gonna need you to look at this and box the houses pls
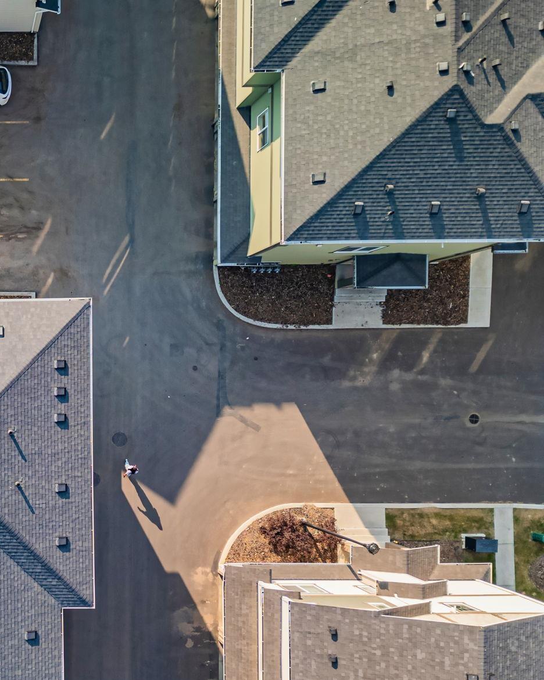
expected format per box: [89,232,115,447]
[0,295,98,680]
[216,537,544,680]
[0,0,62,35]
[207,0,544,288]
